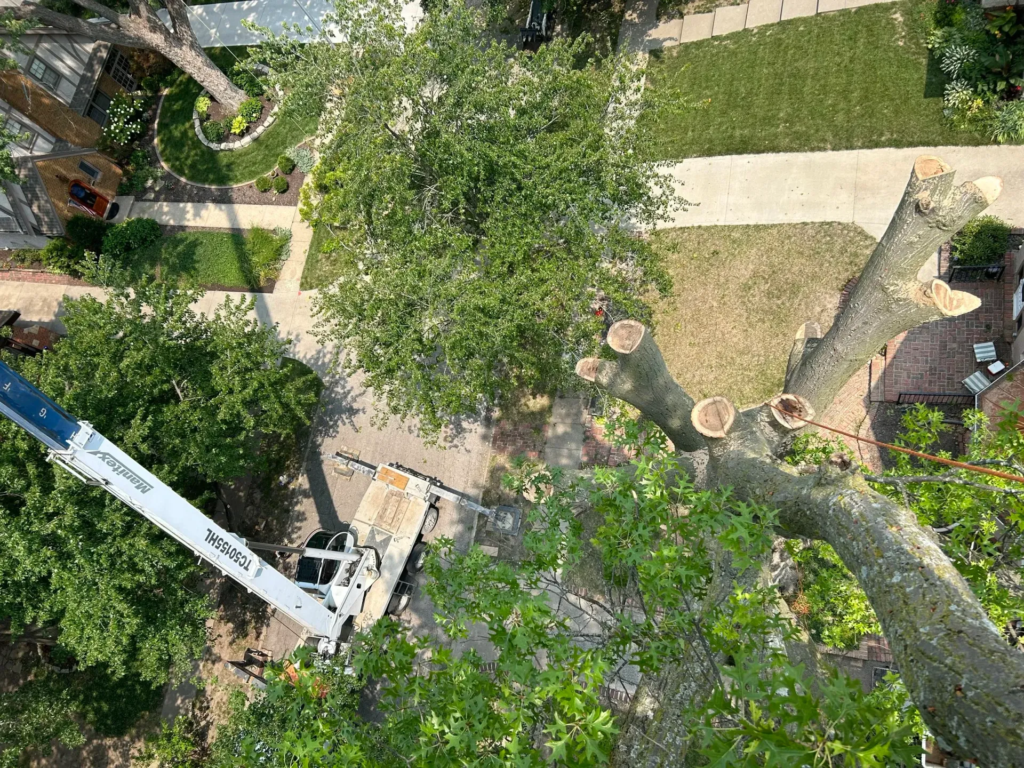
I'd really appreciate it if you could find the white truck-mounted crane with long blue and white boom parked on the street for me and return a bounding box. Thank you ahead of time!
[0,363,500,759]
